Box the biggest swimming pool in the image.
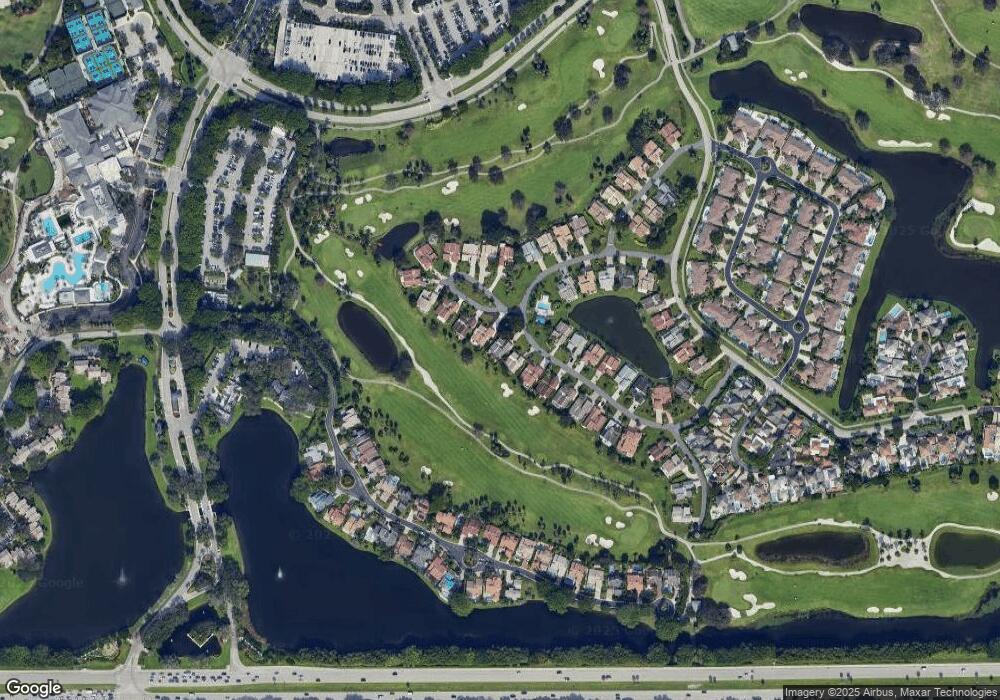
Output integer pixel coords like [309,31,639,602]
[40,250,89,295]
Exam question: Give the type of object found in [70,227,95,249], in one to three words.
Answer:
swimming pool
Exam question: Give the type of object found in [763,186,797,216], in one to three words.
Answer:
house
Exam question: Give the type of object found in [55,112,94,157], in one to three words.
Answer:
building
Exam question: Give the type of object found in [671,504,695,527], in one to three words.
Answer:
house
